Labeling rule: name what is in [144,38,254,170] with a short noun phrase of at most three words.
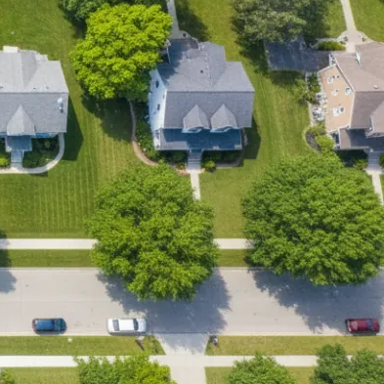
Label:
house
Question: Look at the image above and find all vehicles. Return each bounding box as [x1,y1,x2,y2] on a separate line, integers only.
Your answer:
[31,318,66,335]
[107,318,146,335]
[344,318,379,335]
